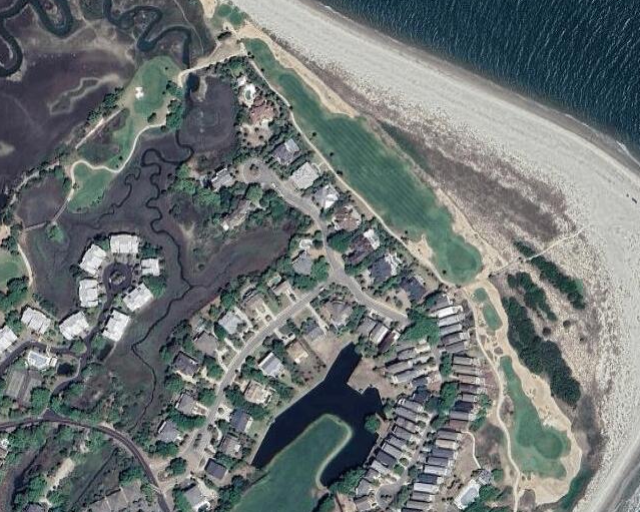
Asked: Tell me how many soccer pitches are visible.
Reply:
0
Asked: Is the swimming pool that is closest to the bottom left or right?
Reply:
right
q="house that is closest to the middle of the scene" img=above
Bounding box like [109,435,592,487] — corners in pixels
[294,251,315,275]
